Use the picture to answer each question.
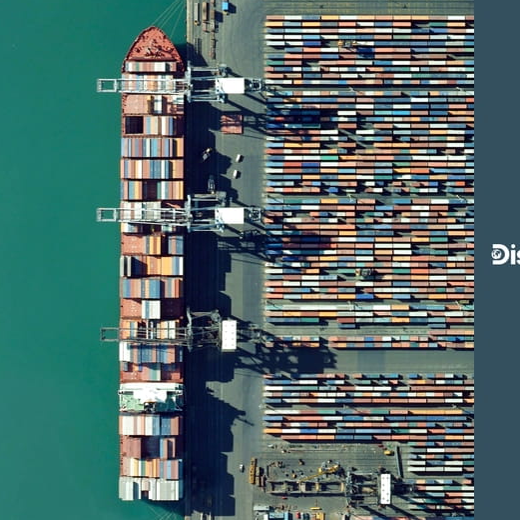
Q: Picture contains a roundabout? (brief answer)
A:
No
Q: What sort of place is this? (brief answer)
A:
port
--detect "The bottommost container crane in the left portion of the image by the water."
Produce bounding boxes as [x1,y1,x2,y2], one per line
[102,302,258,355]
